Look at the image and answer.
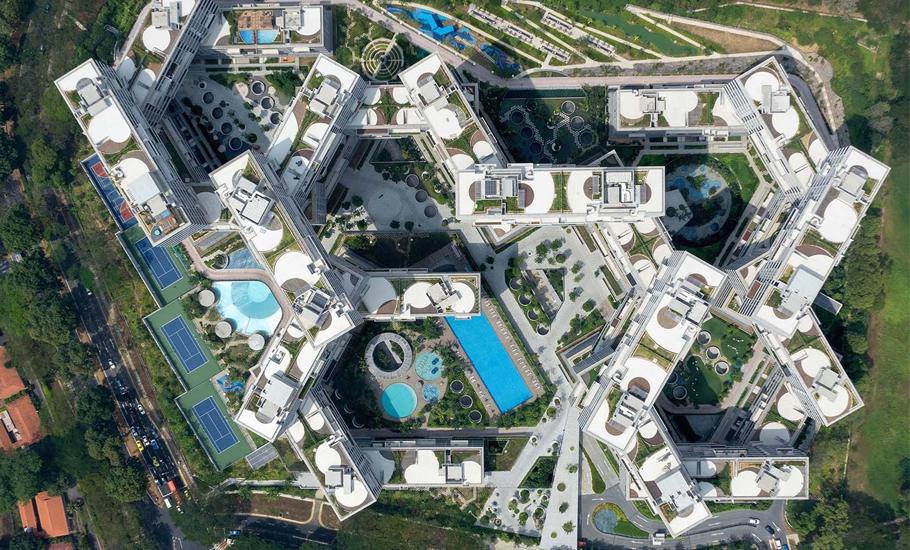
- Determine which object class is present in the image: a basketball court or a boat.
basketball court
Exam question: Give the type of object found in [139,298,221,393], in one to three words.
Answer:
tennis court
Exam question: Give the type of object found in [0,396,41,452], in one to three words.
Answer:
house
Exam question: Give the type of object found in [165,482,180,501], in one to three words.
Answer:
vehicle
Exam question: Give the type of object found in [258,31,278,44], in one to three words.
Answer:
swimming pool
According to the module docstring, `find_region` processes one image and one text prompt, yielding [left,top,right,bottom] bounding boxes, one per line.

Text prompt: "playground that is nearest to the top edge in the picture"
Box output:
[387,6,518,73]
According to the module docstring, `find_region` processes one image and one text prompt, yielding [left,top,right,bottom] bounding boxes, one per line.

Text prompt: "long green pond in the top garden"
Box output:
[582,12,699,57]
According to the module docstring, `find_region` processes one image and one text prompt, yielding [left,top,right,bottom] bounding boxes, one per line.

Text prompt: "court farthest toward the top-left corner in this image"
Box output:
[76,151,135,232]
